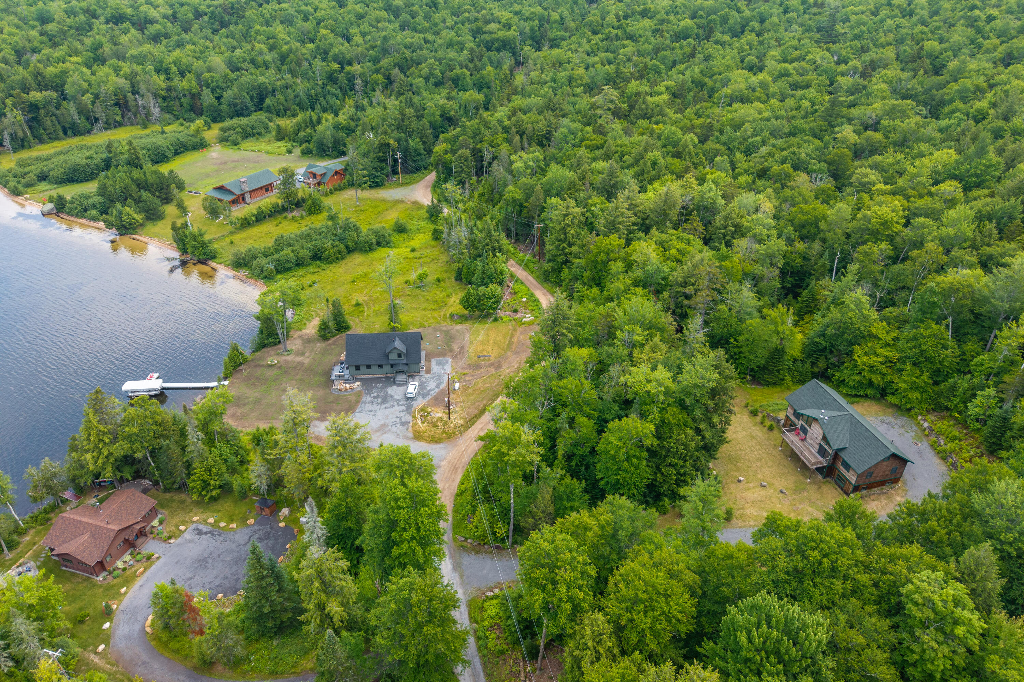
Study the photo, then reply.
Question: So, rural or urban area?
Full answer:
The area is rural.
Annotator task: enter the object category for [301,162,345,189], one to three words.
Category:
house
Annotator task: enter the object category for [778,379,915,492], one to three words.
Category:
house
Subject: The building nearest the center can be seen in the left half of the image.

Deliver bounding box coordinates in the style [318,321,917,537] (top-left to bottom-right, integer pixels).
[330,332,423,384]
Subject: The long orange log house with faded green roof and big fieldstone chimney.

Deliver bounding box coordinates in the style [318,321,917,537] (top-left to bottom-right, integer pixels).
[205,168,281,209]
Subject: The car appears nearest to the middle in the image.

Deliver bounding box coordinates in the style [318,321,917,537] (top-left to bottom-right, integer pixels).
[405,381,419,398]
